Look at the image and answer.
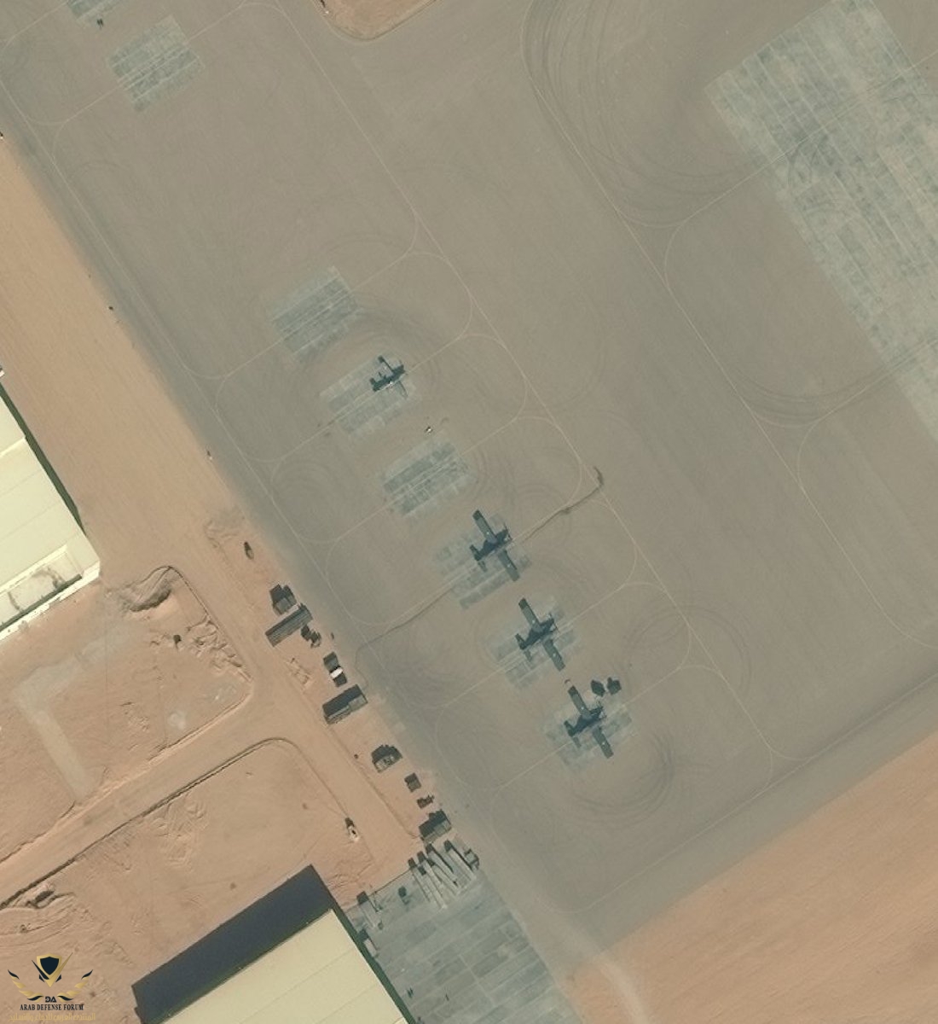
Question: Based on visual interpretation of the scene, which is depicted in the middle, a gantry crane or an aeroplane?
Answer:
aeroplane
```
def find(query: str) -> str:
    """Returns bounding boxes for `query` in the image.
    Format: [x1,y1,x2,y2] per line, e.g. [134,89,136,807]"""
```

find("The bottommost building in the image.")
[158,909,412,1024]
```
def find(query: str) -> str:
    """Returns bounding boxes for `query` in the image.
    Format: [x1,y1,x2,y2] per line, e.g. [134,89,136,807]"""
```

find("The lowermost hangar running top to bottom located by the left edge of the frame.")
[0,405,101,635]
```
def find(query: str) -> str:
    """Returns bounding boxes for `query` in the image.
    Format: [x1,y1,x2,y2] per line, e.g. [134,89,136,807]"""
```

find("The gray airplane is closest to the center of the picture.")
[471,518,519,579]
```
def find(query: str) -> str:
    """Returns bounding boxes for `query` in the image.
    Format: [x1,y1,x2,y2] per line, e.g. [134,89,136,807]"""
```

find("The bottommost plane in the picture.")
[565,695,614,756]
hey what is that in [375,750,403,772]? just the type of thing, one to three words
truck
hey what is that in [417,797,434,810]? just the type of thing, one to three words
vehicle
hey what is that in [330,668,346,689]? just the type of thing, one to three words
vehicle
